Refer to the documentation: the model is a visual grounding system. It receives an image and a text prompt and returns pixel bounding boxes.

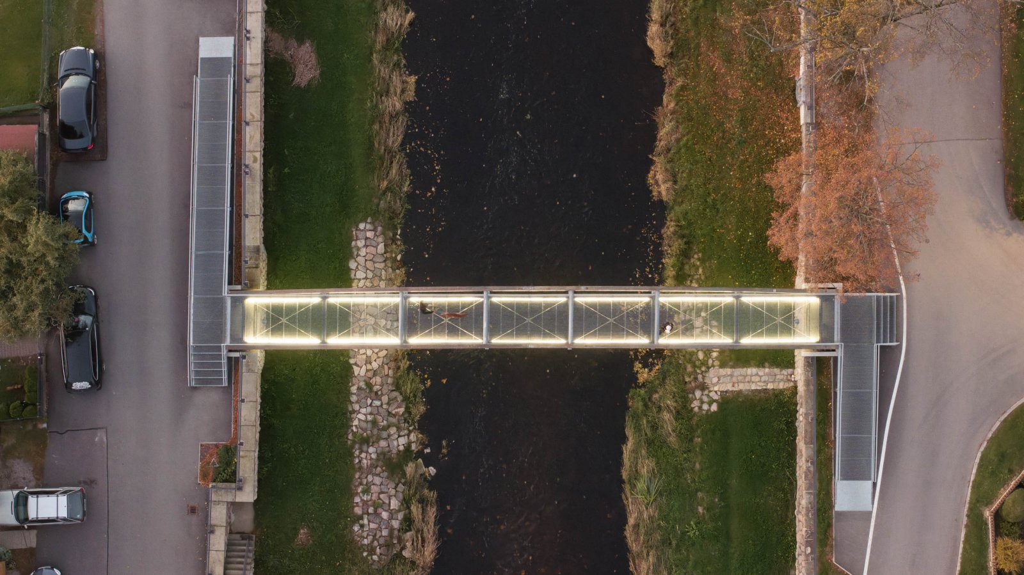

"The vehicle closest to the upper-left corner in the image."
[50,46,99,149]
